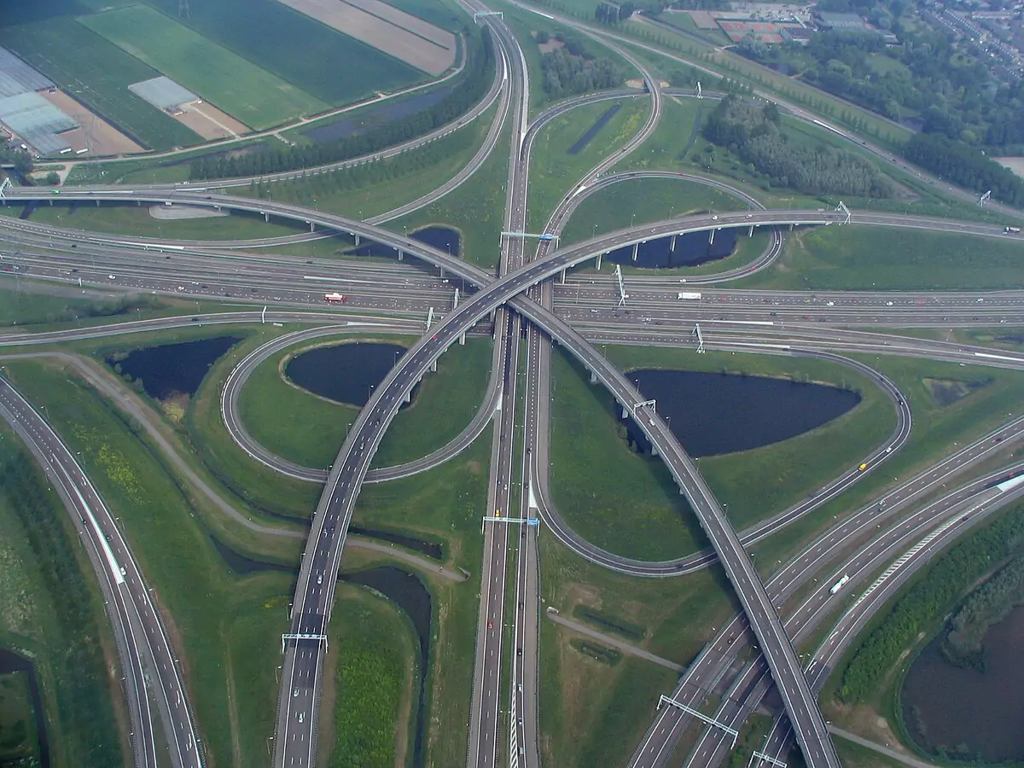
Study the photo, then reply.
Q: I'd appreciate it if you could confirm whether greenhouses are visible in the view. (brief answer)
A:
Yes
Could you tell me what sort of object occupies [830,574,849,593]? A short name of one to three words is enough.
vehicle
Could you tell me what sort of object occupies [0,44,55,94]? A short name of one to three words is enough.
greenhouse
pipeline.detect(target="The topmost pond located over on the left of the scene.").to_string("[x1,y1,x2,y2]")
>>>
[343,225,463,263]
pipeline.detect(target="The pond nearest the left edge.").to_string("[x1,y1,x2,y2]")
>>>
[108,335,242,399]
